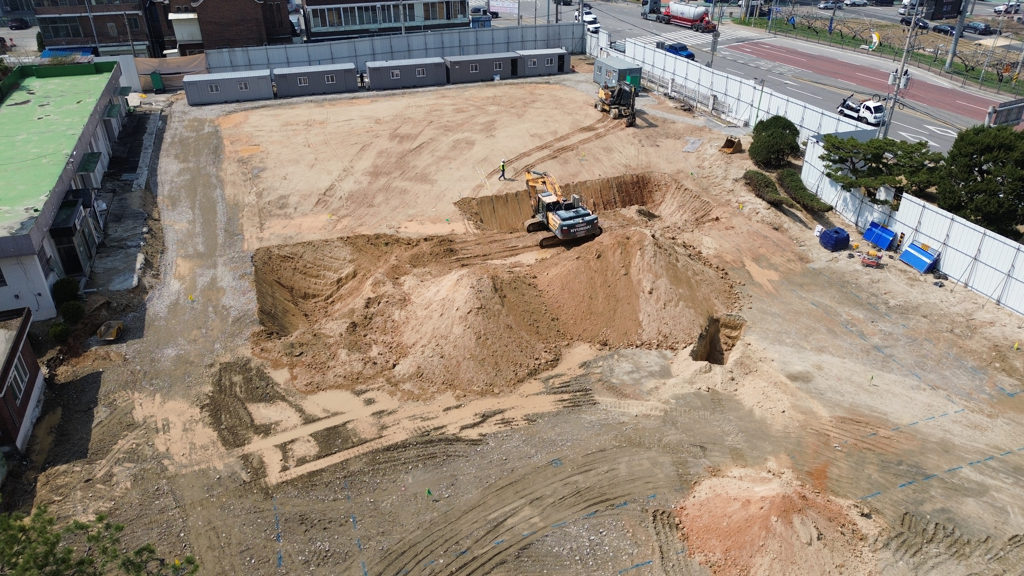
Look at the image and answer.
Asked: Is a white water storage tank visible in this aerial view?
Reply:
No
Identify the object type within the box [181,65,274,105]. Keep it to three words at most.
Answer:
building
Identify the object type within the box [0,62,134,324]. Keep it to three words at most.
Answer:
building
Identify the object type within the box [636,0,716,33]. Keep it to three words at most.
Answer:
truck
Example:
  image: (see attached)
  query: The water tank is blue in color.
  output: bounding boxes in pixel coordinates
[821,227,853,253]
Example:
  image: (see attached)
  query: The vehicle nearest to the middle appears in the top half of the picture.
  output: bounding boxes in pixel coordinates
[521,166,601,248]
